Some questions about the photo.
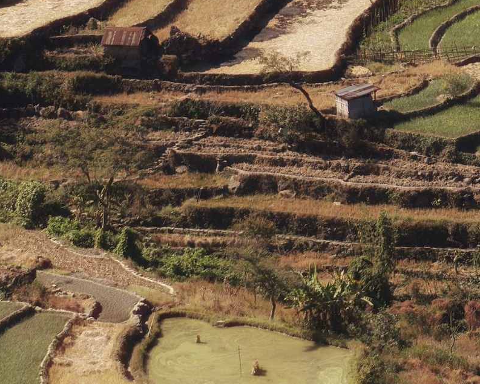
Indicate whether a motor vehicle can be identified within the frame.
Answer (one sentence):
No, I find no motor vehicle anywhere in the image.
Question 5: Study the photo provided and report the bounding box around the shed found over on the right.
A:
[337,79,386,117]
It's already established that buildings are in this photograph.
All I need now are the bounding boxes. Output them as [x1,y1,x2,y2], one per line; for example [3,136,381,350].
[99,24,148,70]
[337,79,386,117]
